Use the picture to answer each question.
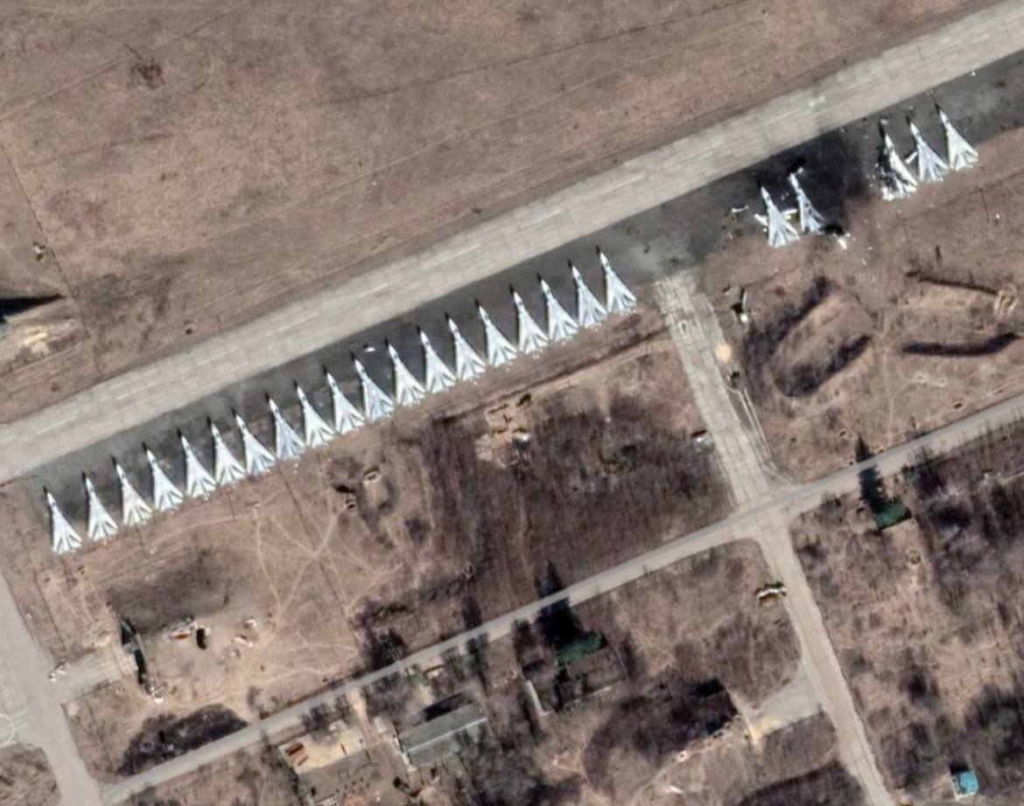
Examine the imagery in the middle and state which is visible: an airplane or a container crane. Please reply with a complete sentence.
What appears in the middle is an airplane.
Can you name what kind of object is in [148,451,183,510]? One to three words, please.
airplane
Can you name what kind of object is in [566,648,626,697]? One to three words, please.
building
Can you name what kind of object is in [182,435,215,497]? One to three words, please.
airplane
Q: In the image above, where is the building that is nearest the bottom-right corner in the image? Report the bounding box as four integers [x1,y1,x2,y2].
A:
[948,768,976,794]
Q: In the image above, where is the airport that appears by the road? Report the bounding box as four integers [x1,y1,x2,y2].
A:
[0,0,1024,560]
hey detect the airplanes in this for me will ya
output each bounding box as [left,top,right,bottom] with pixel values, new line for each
[46,490,80,553]
[182,435,215,497]
[148,451,183,510]
[450,317,486,378]
[356,358,394,418]
[271,399,305,459]
[212,425,245,485]
[299,387,335,447]
[791,173,827,232]
[911,124,948,182]
[421,327,456,391]
[390,344,426,404]
[117,465,151,525]
[327,369,365,432]
[762,184,797,246]
[542,277,579,339]
[481,307,517,366]
[237,415,275,474]
[575,267,608,326]
[85,474,117,539]
[515,290,549,352]
[886,135,917,192]
[601,250,636,313]
[940,112,977,170]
